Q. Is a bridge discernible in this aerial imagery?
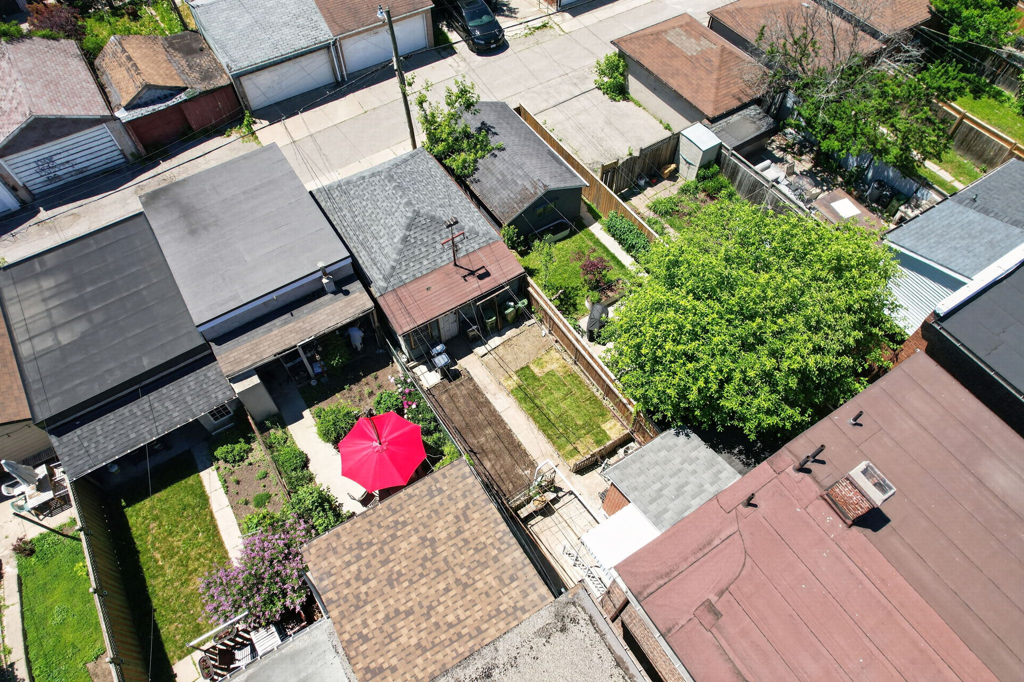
No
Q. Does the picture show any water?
No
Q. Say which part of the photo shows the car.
top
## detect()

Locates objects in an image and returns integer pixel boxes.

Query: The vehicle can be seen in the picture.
[450,0,503,51]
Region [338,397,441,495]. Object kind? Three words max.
umbrella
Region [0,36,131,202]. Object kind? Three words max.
building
